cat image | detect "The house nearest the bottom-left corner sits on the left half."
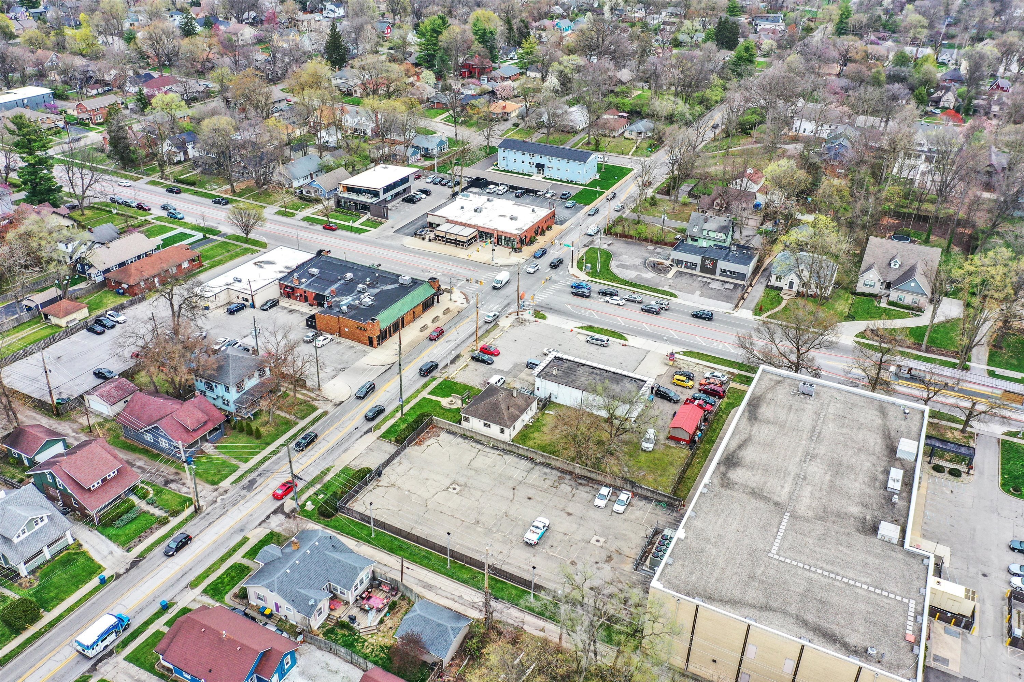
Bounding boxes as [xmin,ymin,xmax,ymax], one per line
[0,487,83,589]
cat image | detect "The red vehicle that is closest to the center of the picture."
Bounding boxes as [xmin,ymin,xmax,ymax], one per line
[478,345,500,357]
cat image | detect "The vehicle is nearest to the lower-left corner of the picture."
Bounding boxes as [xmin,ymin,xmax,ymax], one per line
[70,615,134,669]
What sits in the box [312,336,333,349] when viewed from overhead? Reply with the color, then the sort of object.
white vehicle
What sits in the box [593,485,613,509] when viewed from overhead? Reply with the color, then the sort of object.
white car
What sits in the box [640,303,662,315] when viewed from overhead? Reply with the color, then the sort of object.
gray vehicle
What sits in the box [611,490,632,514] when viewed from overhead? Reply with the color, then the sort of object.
white car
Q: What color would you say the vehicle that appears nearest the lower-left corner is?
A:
white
